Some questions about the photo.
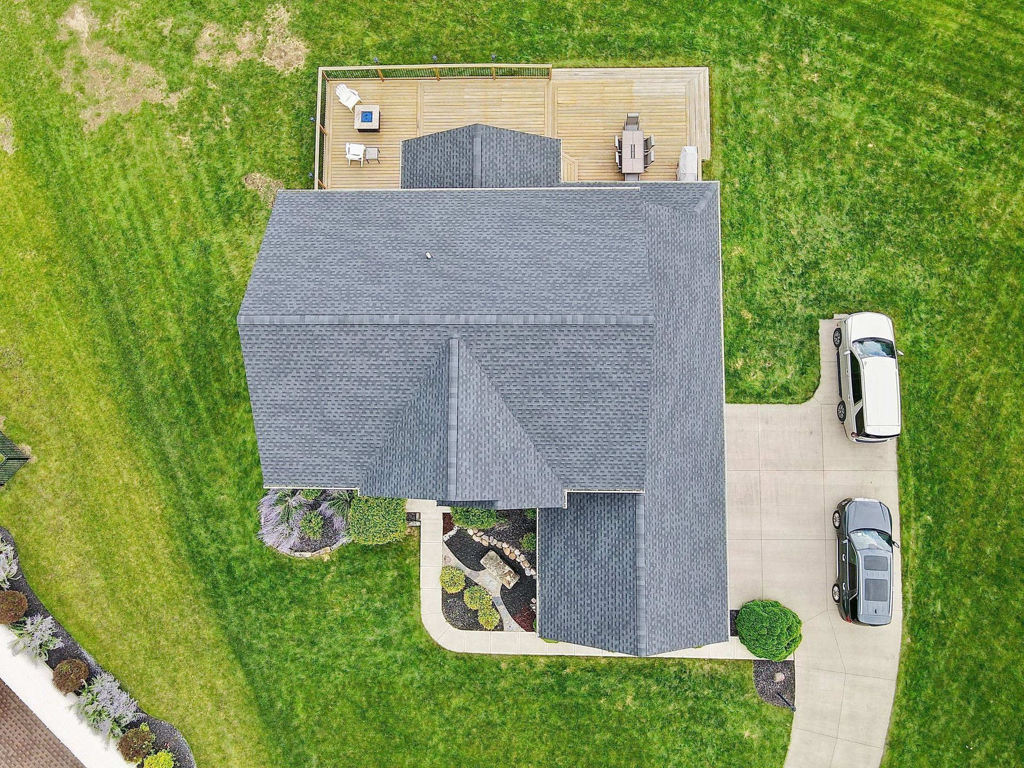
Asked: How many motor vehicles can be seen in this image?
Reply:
2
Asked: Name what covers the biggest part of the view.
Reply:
grass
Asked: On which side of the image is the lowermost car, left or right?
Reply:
right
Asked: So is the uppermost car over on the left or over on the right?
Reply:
right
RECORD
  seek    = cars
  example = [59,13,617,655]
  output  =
[832,497,899,625]
[833,310,902,443]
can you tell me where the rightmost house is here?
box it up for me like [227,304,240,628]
[238,124,730,657]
